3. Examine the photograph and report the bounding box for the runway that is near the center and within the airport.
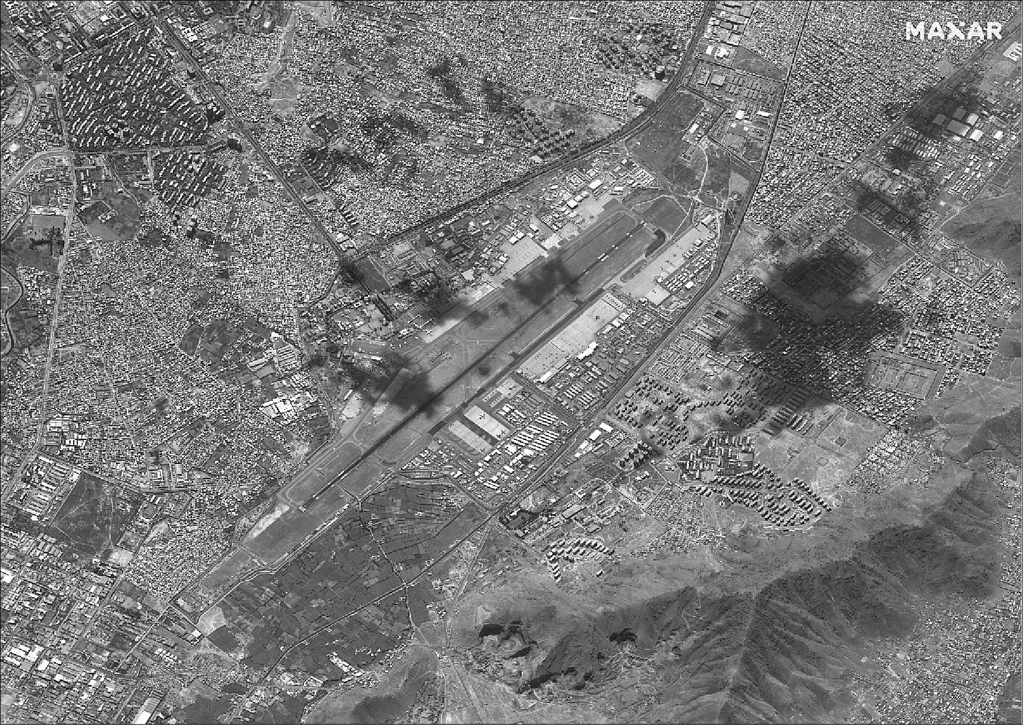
[298,219,646,513]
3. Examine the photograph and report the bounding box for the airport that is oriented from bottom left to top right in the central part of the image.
[170,193,721,621]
